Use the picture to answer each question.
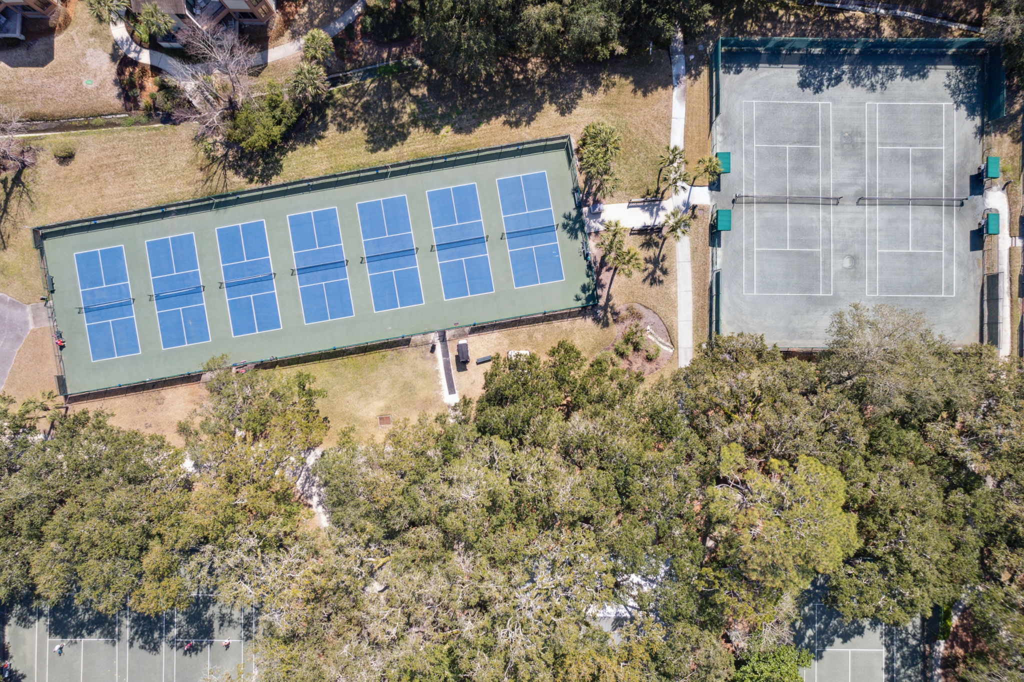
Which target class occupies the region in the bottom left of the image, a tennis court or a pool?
tennis court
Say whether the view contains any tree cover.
Yes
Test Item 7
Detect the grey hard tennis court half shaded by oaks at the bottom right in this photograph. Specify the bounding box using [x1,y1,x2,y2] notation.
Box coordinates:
[794,564,923,682]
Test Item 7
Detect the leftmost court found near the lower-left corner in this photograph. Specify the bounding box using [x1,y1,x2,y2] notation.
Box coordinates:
[5,547,147,682]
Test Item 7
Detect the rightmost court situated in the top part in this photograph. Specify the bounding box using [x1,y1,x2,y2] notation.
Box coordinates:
[849,53,984,347]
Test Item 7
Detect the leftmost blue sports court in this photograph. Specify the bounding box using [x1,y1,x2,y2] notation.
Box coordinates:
[74,246,141,361]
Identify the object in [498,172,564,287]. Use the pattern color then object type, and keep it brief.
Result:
blue sports court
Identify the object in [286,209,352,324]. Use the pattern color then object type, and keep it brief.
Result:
blue sports court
